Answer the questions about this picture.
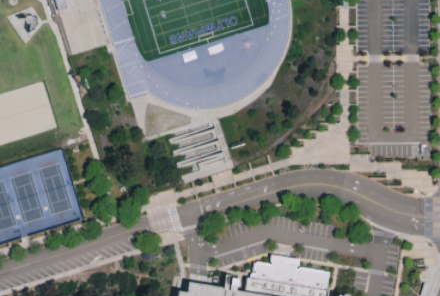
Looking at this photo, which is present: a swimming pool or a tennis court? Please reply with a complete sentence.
Visible in the photo is a tennis court.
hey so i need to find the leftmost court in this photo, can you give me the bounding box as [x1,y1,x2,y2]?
[0,182,15,232]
